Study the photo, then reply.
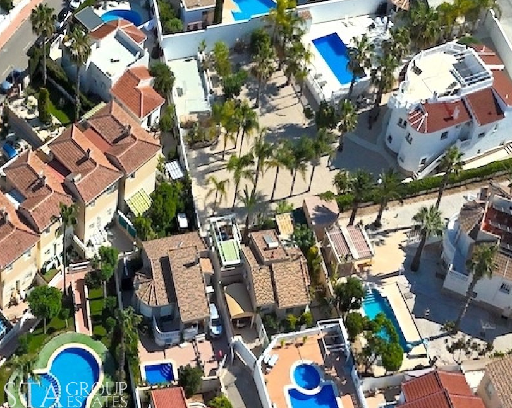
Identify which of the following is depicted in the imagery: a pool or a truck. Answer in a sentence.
Visible in the photo is a pool.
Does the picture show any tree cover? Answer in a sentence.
Yes, there is tree cover in the image.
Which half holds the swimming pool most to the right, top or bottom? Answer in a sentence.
It is in the bottom half that the swimming pool most to the right appears.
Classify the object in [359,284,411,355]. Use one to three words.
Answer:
swimming pool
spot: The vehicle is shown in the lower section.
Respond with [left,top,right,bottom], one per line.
[207,303,224,333]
